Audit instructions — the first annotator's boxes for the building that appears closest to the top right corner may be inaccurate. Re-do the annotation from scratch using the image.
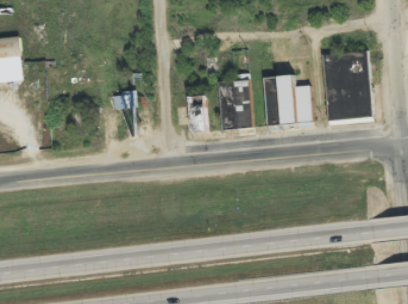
[322,50,374,124]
